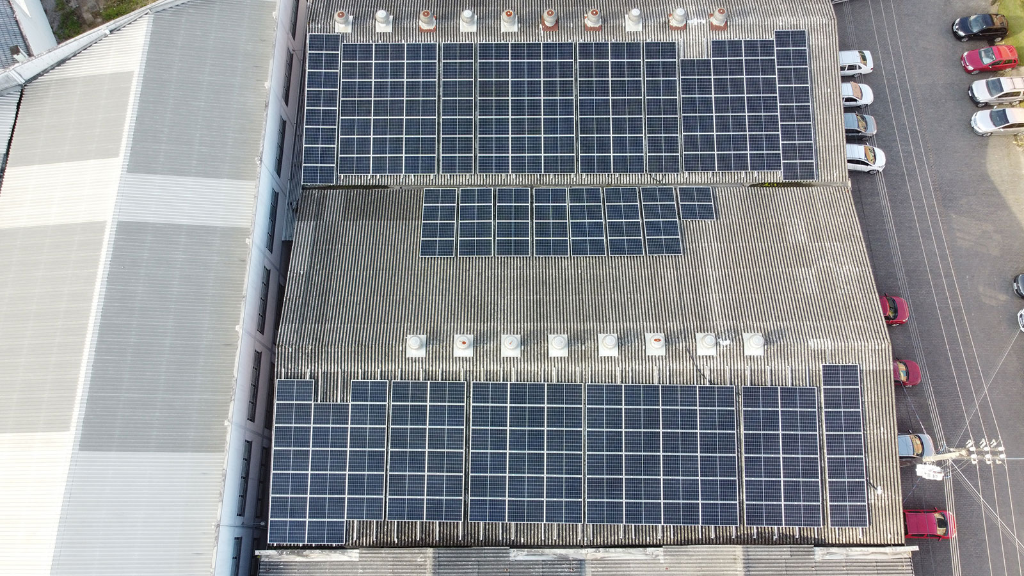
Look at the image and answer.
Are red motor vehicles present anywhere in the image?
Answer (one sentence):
Yes, looking at the shot, I can spot a red motor vehicle.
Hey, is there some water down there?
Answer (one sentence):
No, there is no water in the image.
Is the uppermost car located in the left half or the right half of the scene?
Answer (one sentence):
You can find the uppermost car on the right side of the picture.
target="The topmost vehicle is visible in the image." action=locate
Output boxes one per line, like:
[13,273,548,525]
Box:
[949,11,1013,42]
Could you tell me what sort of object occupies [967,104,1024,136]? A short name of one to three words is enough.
car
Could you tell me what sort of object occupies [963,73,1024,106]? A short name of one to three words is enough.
car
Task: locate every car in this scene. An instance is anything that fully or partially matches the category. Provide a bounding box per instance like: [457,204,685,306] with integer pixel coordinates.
[846,142,886,174]
[902,507,958,544]
[897,427,936,458]
[879,294,911,326]
[957,41,1024,74]
[844,110,878,141]
[840,49,876,78]
[967,104,1024,136]
[842,78,874,109]
[963,73,1024,106]
[949,11,1013,42]
[893,355,922,387]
